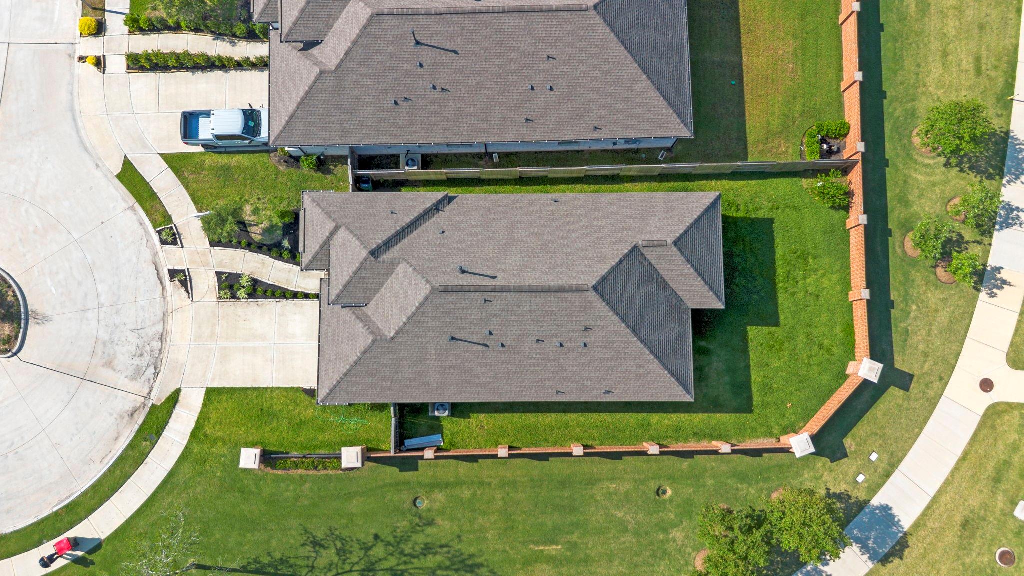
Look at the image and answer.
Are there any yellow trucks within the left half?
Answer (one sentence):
No, the scene shows no yellow truck within the left half.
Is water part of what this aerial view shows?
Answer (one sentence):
No, the picture contains no water.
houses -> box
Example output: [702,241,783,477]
[296,189,726,406]
[247,0,696,158]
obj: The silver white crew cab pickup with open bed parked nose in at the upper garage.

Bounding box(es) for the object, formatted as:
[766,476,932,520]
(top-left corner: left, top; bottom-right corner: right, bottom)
[180,107,270,150]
